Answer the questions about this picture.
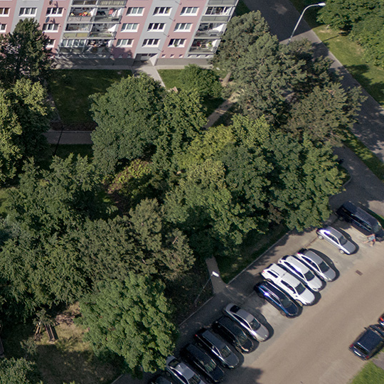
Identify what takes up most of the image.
trees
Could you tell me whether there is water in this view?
No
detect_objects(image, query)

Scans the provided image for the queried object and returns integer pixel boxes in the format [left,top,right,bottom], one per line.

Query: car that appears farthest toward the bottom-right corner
[348,323,384,363]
